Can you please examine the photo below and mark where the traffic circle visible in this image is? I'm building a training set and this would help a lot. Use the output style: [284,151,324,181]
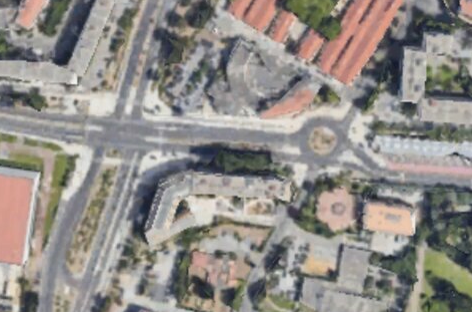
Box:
[296,113,350,167]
